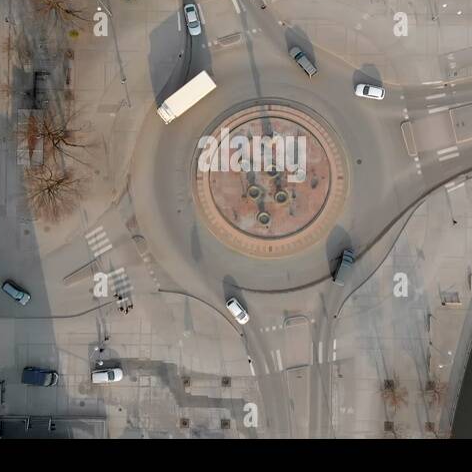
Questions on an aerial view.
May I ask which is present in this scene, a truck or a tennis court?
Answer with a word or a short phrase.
truck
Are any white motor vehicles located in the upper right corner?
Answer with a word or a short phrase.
Yes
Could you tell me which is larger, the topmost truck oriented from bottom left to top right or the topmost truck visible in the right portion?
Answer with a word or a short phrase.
the topmost truck oriented from bottom left to top right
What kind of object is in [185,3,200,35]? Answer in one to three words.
car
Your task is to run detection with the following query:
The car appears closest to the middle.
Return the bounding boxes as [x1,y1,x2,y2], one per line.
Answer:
[225,297,249,325]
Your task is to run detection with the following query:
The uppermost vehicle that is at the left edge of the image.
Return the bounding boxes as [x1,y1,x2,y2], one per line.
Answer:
[0,279,29,306]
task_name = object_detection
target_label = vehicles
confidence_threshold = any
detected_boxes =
[355,83,386,100]
[21,368,58,386]
[290,45,318,77]
[185,3,200,35]
[0,279,29,306]
[225,297,249,325]
[159,66,219,122]
[332,250,357,286]
[91,367,123,384]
